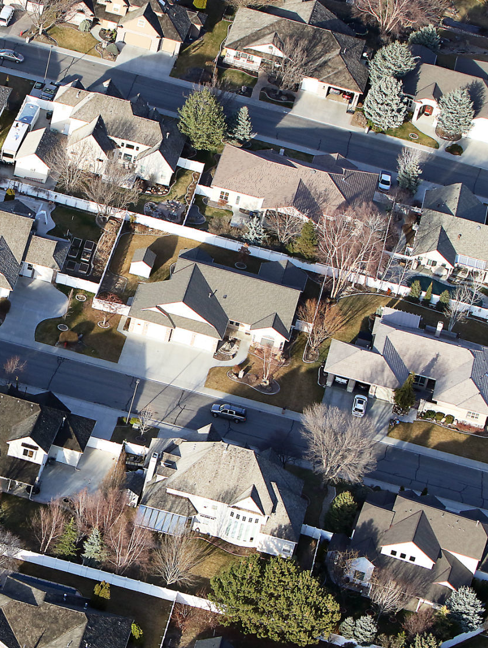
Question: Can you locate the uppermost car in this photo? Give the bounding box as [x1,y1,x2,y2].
[0,6,16,22]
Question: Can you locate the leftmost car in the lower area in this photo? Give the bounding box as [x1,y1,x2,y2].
[211,403,248,422]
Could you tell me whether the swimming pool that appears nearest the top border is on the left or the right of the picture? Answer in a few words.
right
